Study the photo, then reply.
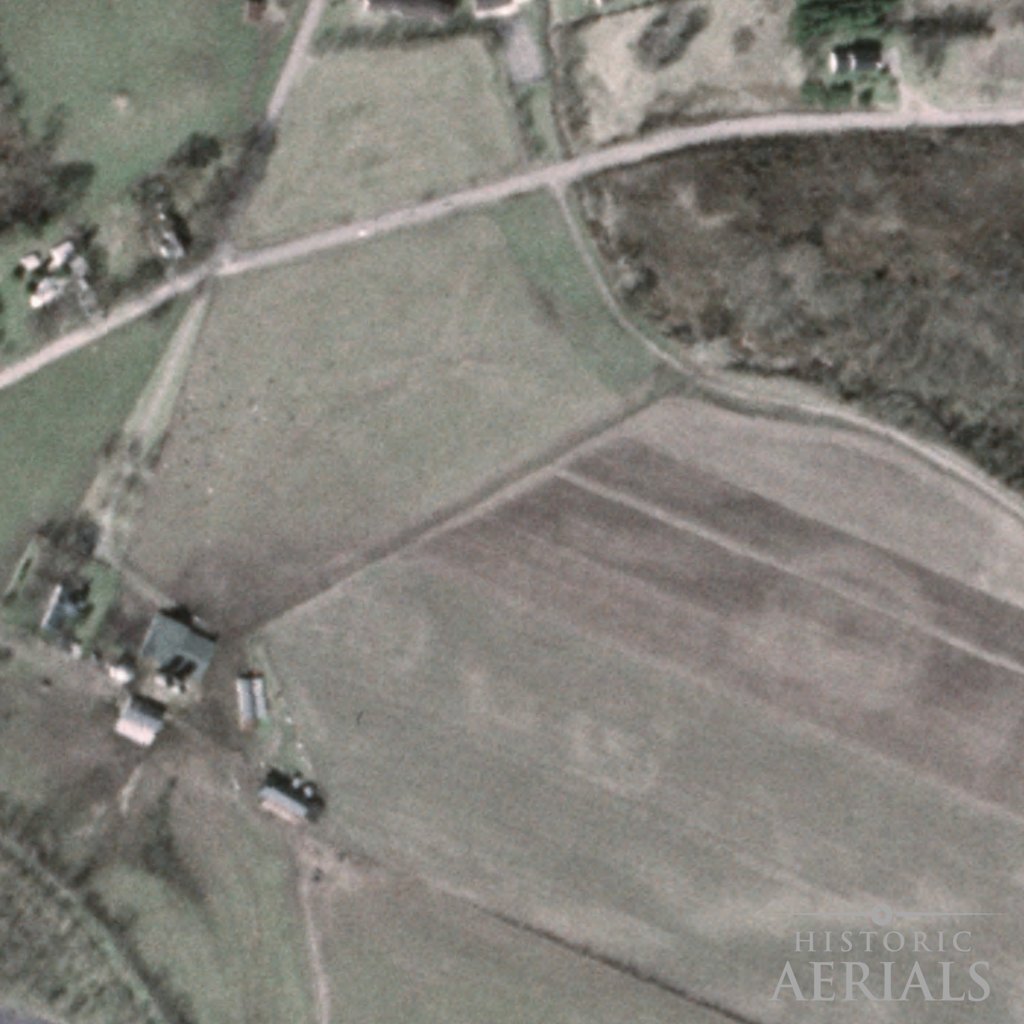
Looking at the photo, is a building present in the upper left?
Yes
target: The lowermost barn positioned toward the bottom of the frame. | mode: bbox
[261,774,317,819]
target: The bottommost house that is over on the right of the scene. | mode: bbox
[828,47,893,76]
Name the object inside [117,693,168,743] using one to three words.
barn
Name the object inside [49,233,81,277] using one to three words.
house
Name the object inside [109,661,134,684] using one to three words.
building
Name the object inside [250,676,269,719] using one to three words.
shed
